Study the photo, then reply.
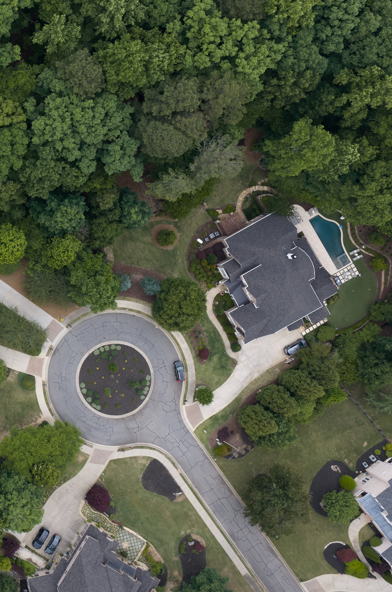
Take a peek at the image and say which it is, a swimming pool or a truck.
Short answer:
swimming pool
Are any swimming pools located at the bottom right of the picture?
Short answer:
No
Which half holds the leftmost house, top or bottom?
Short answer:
bottom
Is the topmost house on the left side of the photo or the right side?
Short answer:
right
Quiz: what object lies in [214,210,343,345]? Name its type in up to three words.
house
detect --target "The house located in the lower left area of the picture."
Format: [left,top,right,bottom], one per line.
[26,516,161,592]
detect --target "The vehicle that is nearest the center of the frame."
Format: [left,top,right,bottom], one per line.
[175,362,187,383]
